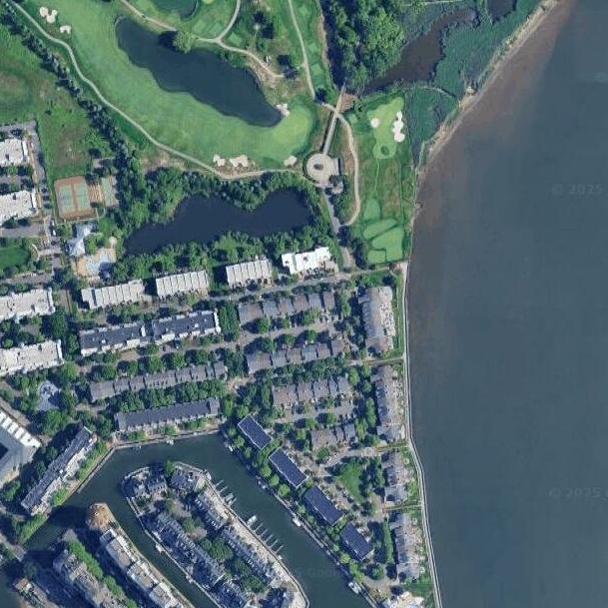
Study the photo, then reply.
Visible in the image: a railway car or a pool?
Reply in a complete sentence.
Of the two, only a pool appears.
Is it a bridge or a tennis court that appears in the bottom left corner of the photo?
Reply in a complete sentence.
What appears in the bottom left corner of the photo is a bridge.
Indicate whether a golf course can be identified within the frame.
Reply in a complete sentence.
Yes, there's a golf course here.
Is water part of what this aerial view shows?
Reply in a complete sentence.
Yes, the picture does contain water.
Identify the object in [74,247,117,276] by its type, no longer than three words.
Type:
swimming pool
